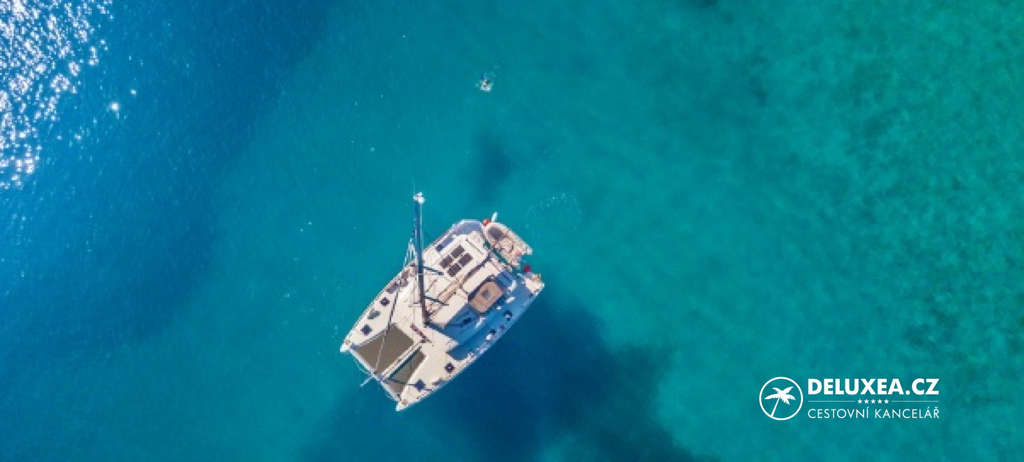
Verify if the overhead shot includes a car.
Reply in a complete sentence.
No, there is no car in the image.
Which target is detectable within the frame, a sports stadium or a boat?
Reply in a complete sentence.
The one in the frame is a boat.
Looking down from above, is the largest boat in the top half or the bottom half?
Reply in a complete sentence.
You can find the largest boat in the bottom half.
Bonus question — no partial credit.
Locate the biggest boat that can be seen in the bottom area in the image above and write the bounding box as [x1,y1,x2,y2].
[340,192,542,416]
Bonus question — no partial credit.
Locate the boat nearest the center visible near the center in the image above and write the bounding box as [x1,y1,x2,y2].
[483,224,531,270]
